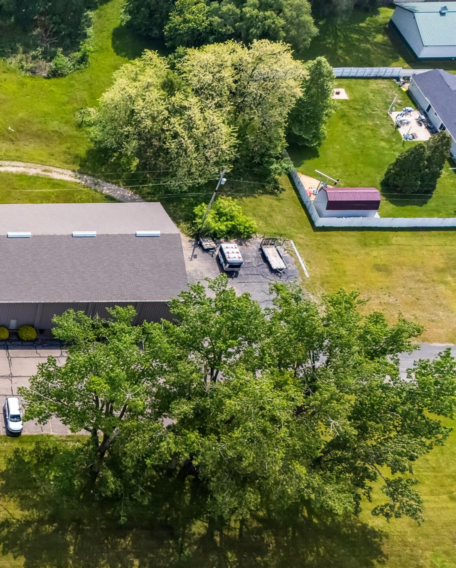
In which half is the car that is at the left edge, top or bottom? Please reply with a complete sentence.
The car that is at the left edge sits in the bottom half of the picture.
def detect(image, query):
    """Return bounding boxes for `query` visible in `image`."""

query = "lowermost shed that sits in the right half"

[312,185,379,217]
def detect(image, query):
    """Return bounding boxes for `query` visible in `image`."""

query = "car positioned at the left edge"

[1,396,24,434]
